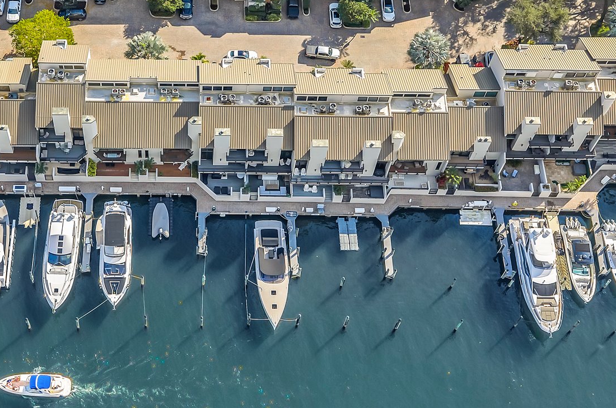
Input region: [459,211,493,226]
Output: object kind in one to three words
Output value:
pier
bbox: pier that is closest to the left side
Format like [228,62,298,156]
[19,198,40,226]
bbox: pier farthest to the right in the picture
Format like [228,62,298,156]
[582,212,613,278]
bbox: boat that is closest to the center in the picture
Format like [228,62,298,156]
[253,219,290,332]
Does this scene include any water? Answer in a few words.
Yes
